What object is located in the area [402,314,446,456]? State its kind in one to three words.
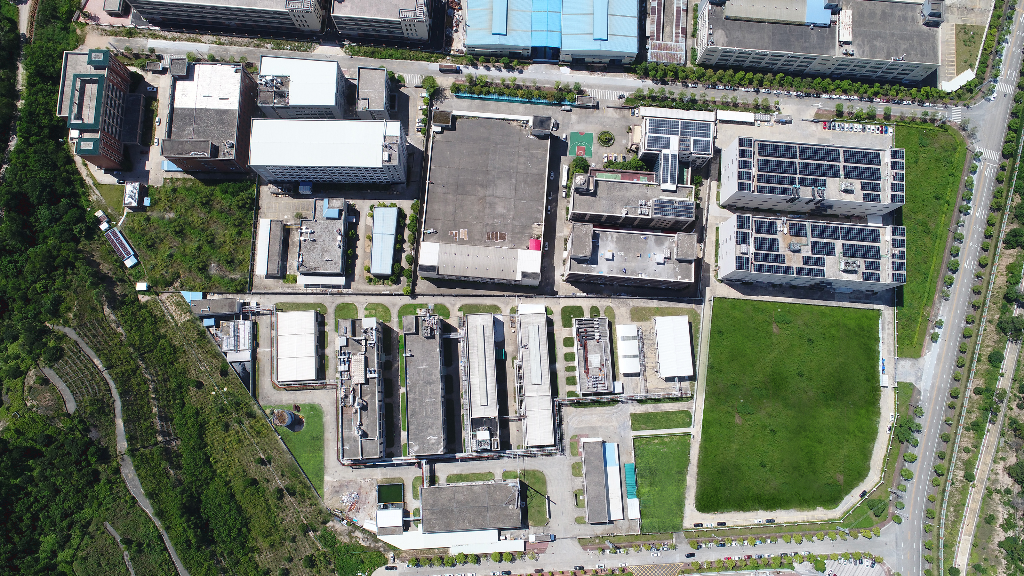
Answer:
building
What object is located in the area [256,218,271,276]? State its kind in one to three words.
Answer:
shed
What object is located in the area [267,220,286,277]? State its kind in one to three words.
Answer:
shed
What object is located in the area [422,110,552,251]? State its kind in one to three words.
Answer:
warehouse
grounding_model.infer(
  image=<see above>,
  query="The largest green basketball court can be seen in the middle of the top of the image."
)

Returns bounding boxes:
[569,132,594,157]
